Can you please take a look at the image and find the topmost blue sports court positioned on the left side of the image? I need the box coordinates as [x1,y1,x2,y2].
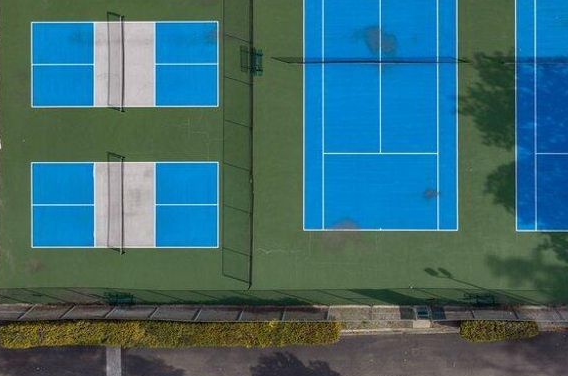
[32,21,218,107]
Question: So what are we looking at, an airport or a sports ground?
sports ground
